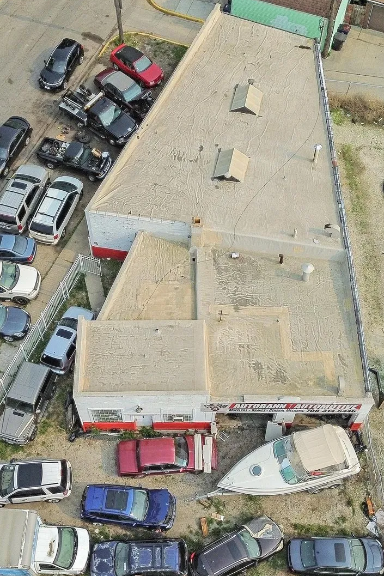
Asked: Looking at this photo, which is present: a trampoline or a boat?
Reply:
boat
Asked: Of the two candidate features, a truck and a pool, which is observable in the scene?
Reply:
truck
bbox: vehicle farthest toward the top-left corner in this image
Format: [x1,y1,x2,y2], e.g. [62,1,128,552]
[41,34,87,92]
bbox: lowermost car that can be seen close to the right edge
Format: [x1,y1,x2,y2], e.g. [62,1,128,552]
[285,530,384,576]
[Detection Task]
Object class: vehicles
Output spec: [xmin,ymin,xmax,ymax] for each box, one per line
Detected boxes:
[0,231,39,266]
[0,300,33,344]
[0,256,42,302]
[285,530,384,576]
[0,166,52,233]
[92,65,154,116]
[39,305,94,382]
[41,34,87,92]
[90,533,189,576]
[0,114,34,180]
[116,432,218,478]
[109,45,164,91]
[0,509,92,576]
[33,139,109,185]
[78,480,177,532]
[27,178,85,248]
[58,86,138,149]
[0,354,56,451]
[189,513,285,576]
[0,457,75,506]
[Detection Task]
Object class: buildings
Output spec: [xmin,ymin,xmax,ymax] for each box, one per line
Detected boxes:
[74,0,378,438]
[363,0,384,34]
